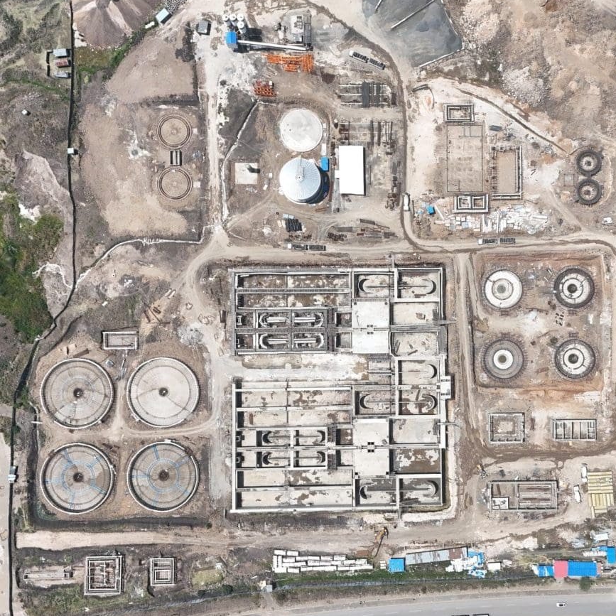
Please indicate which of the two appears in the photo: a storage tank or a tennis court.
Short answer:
storage tank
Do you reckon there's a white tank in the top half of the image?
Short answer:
Yes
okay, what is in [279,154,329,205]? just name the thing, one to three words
storage tank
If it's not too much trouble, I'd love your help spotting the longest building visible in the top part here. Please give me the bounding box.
[340,145,365,195]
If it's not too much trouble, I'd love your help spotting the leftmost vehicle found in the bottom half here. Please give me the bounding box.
[374,526,387,551]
